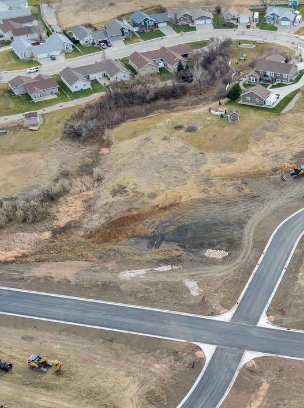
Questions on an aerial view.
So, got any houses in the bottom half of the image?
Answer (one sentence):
No, no house can be made out in the bottom half of the image.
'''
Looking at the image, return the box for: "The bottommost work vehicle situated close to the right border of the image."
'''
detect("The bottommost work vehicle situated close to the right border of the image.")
[280,165,304,179]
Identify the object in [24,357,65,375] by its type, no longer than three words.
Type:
work vehicle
